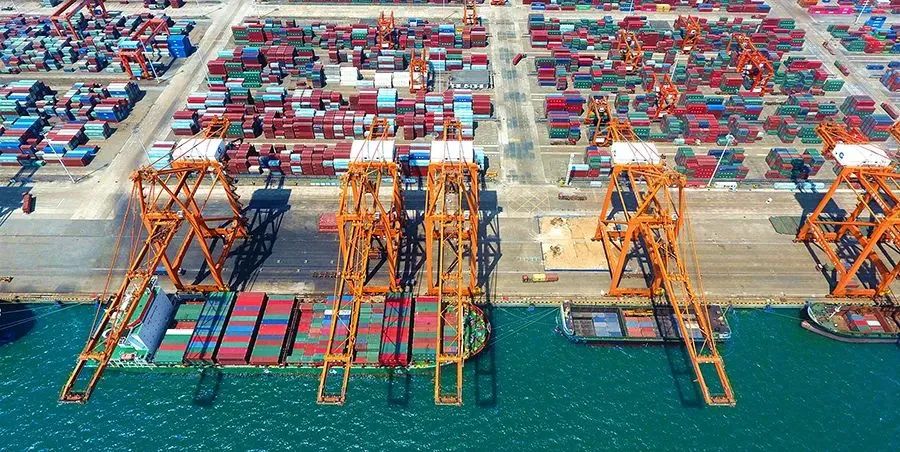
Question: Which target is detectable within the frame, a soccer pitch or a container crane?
container crane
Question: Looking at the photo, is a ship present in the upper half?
No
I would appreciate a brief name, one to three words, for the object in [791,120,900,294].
container crane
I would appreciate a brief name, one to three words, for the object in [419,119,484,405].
container crane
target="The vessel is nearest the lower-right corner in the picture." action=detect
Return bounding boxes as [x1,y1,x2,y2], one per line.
[801,301,900,346]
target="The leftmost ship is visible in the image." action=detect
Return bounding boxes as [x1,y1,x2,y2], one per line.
[0,305,28,348]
